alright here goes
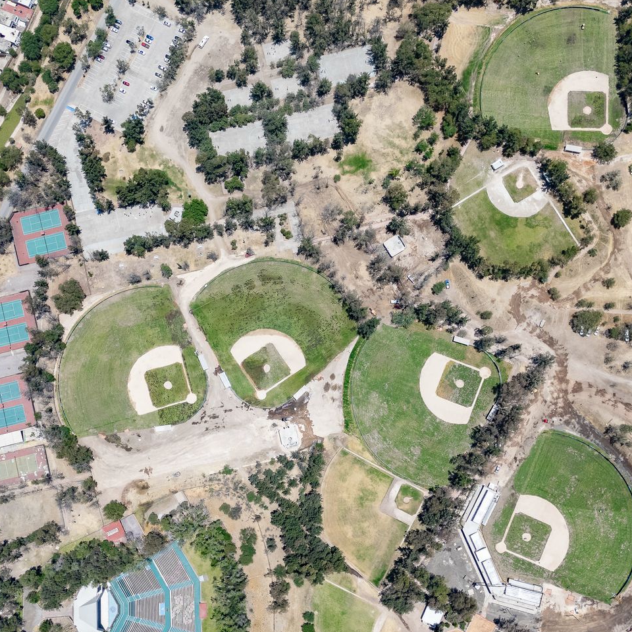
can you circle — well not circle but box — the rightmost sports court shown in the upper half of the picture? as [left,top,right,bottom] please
[319,43,375,84]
